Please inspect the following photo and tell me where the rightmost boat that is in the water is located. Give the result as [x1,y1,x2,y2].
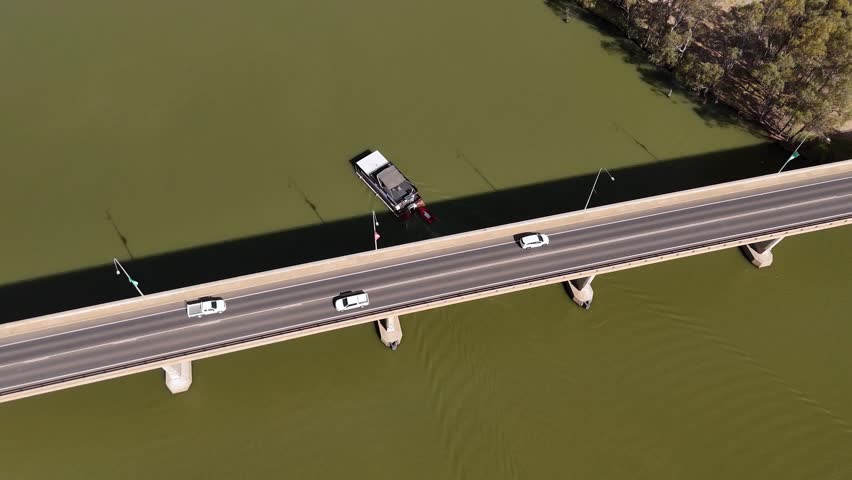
[417,206,431,225]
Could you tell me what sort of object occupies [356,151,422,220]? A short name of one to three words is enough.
boat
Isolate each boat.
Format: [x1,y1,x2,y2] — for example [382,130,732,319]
[356,151,422,220]
[417,206,431,225]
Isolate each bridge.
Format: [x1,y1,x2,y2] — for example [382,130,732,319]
[0,157,852,401]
